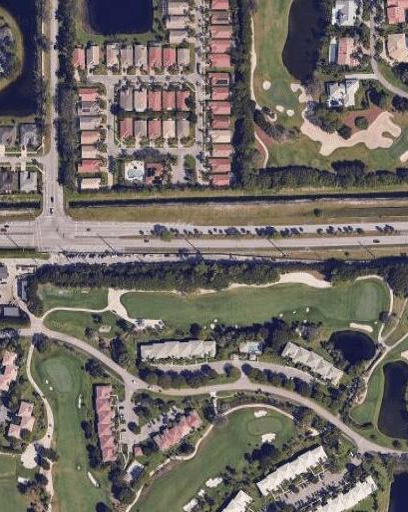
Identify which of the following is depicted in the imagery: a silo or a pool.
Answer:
pool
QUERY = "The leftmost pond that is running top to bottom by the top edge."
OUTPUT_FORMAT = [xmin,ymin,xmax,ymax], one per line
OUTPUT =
[282,0,333,86]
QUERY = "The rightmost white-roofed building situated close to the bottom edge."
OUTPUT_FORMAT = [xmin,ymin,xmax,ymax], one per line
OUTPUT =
[309,479,378,512]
